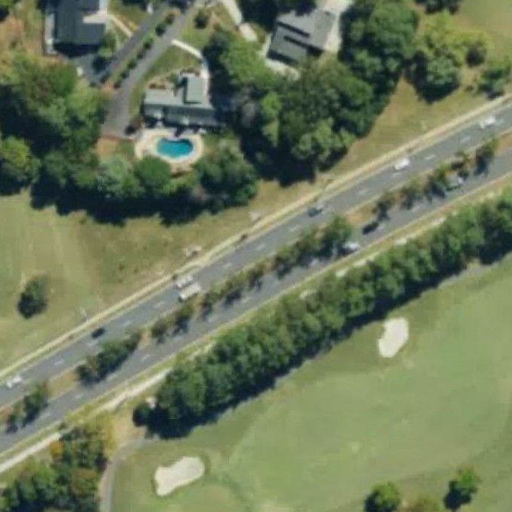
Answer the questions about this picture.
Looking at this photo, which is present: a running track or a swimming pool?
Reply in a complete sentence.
The one in the frame is a swimming pool.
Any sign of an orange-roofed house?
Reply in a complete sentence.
No, I find no orange-roofed house anywhere in the image.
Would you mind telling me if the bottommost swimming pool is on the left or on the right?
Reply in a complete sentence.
The bottommost swimming pool sits on the left side.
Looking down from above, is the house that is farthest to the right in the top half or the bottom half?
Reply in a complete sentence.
The house that is farthest to the right is in the top half of the image.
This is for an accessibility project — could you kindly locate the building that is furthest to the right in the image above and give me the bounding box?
[268,6,343,61]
